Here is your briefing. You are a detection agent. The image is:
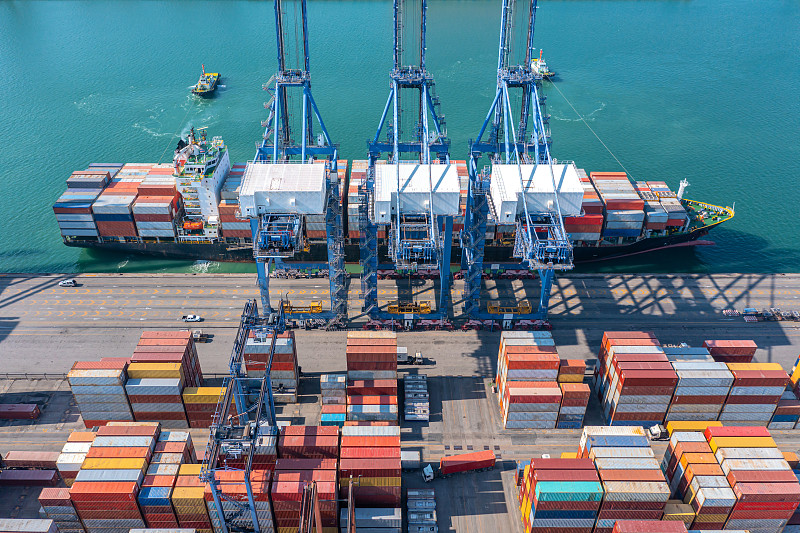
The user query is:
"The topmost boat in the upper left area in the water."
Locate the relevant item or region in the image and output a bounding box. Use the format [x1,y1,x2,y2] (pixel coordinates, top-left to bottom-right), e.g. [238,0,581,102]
[188,60,226,98]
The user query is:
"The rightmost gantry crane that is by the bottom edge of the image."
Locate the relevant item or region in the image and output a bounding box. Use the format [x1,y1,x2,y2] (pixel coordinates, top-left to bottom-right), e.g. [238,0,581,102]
[293,489,351,533]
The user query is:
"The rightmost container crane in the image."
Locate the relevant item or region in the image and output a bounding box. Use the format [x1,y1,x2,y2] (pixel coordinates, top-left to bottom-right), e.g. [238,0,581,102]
[455,0,587,328]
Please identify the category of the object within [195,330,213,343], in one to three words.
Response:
vehicle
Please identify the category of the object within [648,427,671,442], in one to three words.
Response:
vehicle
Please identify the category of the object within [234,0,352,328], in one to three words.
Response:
container crane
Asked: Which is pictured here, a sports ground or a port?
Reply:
port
